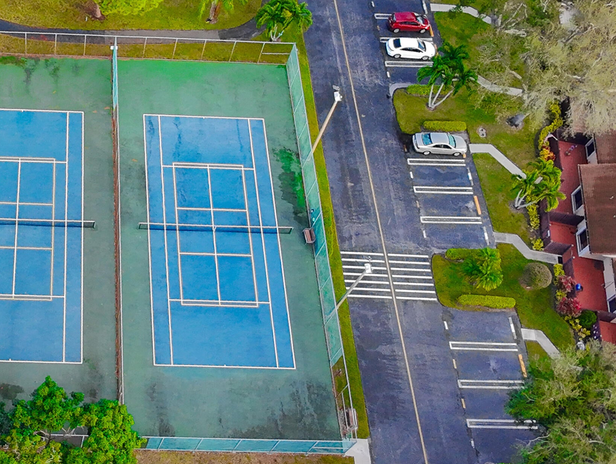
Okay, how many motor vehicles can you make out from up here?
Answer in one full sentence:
My tally gives 3 motor vehicles in this view.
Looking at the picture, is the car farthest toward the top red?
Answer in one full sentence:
Yes, the car farthest toward the top is red.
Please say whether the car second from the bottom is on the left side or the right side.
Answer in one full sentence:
The car second from the bottom appears in the right half of the scene.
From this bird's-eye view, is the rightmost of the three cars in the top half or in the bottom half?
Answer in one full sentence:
The rightmost of the three cars sits in the top half of the picture.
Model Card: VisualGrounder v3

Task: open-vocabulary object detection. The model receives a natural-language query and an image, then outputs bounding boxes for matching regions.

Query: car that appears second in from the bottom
[387,35,437,59]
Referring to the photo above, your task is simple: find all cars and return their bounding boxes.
[388,11,431,33]
[387,35,437,59]
[415,131,469,155]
